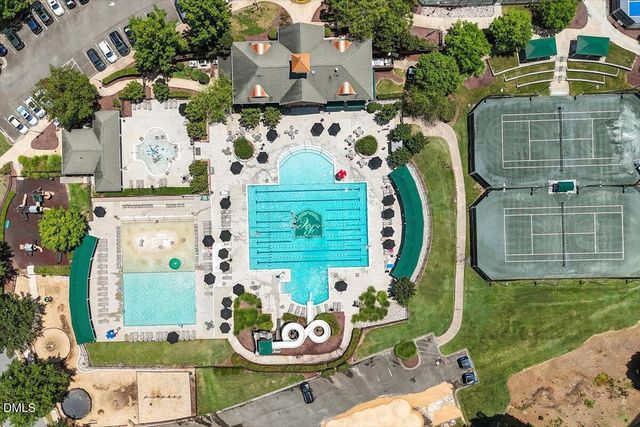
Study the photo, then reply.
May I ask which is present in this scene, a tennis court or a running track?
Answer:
tennis court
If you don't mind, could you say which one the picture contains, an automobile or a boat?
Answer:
automobile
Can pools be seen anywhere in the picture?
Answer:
Yes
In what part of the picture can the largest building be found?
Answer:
top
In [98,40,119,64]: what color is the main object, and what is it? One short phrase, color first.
white car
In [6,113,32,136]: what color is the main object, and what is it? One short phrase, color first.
white car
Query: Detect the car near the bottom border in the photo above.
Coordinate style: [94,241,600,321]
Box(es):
[301,379,314,406]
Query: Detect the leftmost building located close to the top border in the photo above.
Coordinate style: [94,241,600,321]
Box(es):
[219,18,373,116]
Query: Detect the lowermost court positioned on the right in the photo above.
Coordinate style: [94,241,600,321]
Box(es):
[471,187,640,280]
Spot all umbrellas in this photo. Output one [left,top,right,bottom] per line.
[334,279,347,292]
[219,260,231,271]
[368,156,382,169]
[233,283,245,296]
[381,208,394,221]
[256,151,268,164]
[202,234,215,247]
[178,104,191,116]
[230,163,243,174]
[94,205,108,217]
[266,129,279,142]
[381,238,396,250]
[219,198,231,208]
[218,248,230,259]
[220,229,232,242]
[328,123,341,135]
[221,296,233,308]
[220,307,232,319]
[168,330,181,342]
[381,225,394,238]
[311,123,324,136]
[381,193,394,206]
[204,273,216,284]
[337,170,346,179]
[107,328,119,338]
[219,321,232,333]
